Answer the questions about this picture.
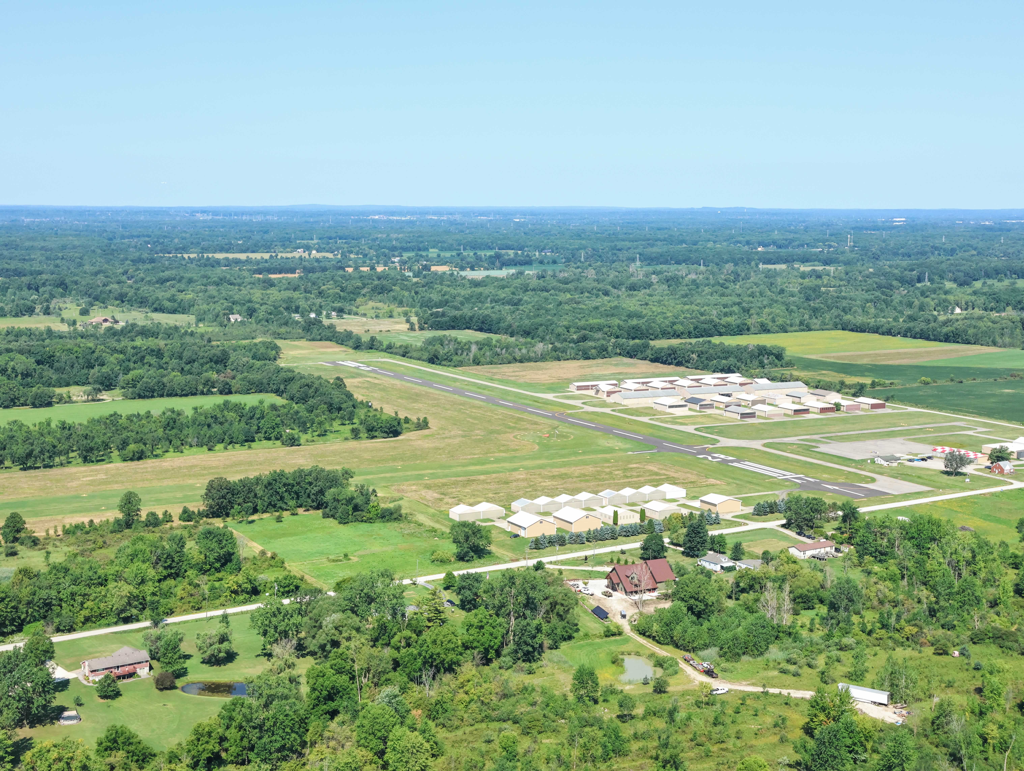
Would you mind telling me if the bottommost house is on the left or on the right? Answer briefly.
left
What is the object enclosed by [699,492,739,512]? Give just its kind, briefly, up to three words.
barn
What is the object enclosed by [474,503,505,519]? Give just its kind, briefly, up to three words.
hangar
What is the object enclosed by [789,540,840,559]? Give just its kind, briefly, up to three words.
house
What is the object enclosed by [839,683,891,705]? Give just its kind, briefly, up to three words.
trailer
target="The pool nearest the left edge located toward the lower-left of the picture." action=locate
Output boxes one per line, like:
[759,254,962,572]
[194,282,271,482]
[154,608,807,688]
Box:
[58,705,82,724]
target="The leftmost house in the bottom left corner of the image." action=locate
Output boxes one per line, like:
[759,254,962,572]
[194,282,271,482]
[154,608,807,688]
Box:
[84,642,152,680]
